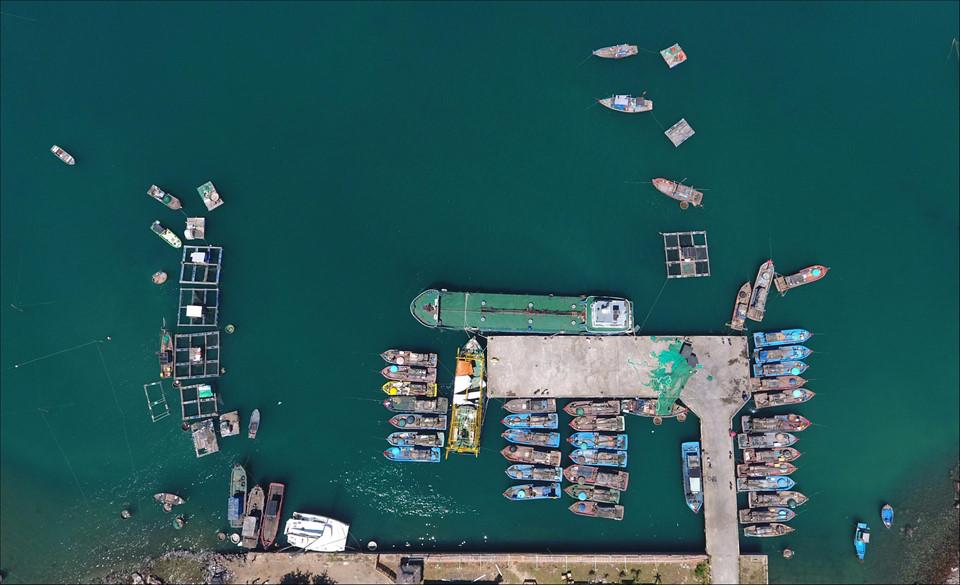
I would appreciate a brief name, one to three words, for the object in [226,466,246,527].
boat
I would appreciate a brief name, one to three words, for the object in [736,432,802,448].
boat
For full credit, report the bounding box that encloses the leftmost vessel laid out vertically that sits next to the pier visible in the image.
[445,337,485,458]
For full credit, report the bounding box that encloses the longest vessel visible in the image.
[410,290,639,337]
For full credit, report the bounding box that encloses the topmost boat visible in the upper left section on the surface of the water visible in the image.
[50,145,75,163]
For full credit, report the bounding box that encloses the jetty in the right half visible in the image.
[488,335,751,585]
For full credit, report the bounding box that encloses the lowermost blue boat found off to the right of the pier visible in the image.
[854,522,871,566]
